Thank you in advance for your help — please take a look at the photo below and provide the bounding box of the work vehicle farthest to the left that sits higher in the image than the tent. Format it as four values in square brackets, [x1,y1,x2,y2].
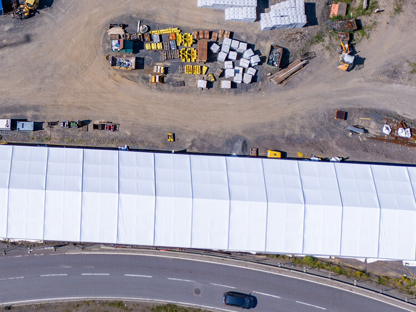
[10,0,44,24]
